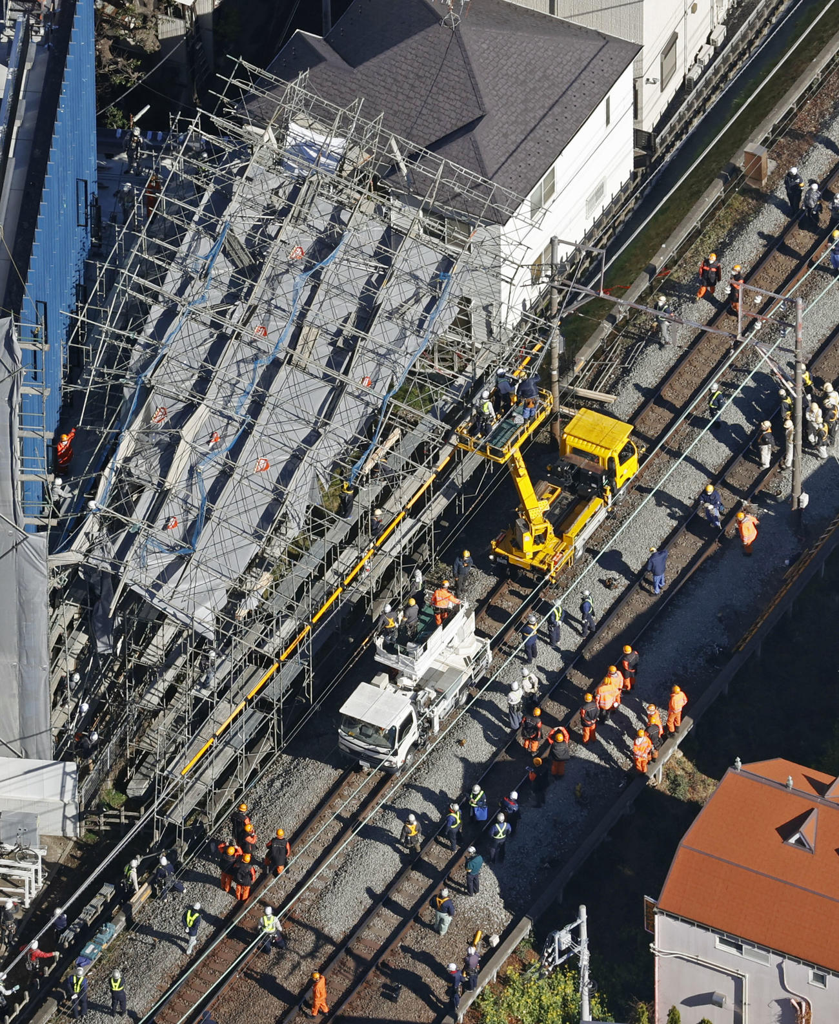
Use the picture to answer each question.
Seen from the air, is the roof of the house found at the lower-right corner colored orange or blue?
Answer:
orange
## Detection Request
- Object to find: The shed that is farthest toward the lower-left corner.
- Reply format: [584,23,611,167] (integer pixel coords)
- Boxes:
[0,748,72,837]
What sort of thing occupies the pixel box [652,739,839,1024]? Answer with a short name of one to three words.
house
